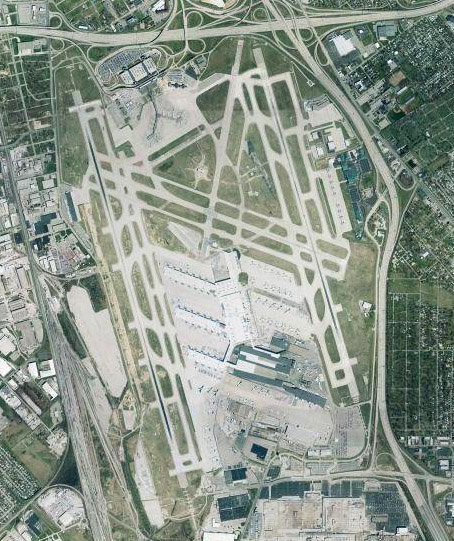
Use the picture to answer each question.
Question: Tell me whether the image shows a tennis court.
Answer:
No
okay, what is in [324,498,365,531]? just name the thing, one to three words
building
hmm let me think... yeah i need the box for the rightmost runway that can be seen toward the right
[255,47,362,400]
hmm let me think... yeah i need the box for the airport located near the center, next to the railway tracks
[66,41,362,488]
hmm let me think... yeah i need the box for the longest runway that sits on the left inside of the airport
[77,108,188,488]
